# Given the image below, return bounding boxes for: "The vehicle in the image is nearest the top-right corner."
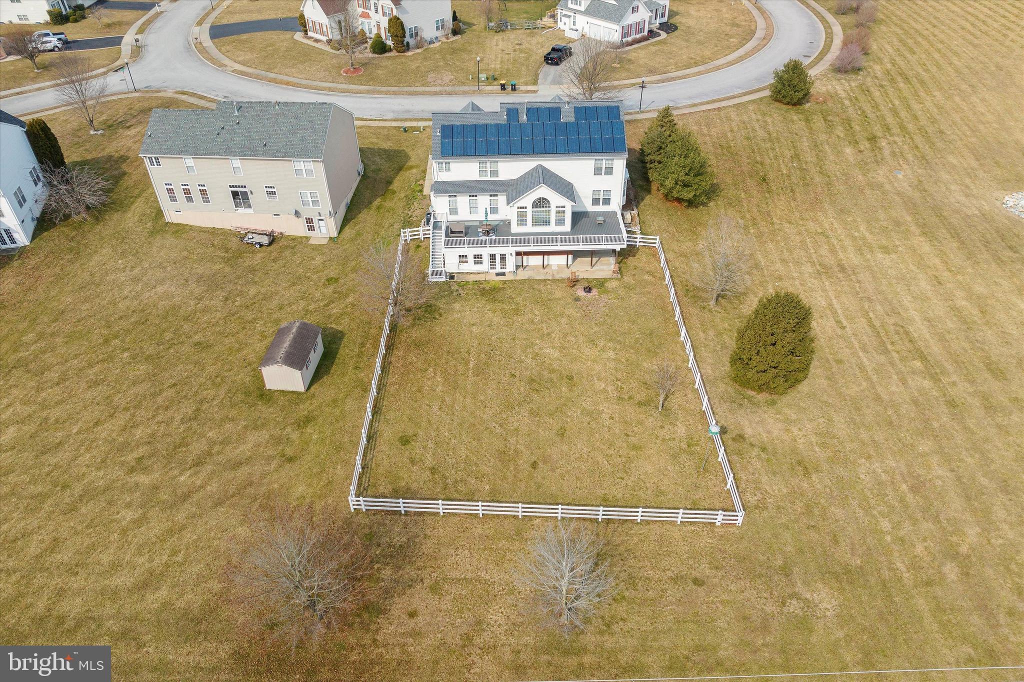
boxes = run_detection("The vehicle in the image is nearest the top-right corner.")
[548,43,575,61]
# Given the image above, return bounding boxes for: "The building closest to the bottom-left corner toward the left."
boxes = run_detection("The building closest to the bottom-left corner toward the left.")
[257,320,326,391]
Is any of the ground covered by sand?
No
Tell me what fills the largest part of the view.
grass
